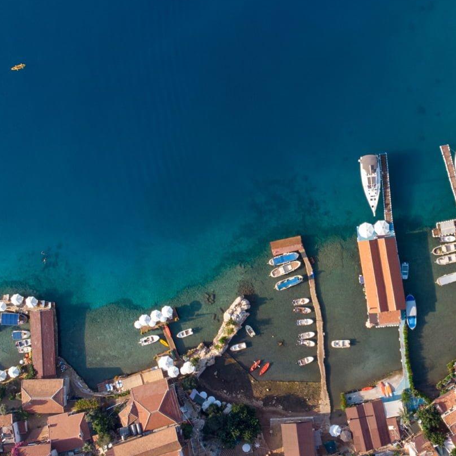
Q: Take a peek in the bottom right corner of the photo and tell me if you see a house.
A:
Yes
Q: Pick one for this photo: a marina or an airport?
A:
marina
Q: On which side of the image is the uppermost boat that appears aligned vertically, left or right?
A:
right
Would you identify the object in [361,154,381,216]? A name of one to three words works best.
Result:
boat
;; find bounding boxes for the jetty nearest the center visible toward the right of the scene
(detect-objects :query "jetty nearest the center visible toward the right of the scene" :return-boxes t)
[270,236,304,256]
